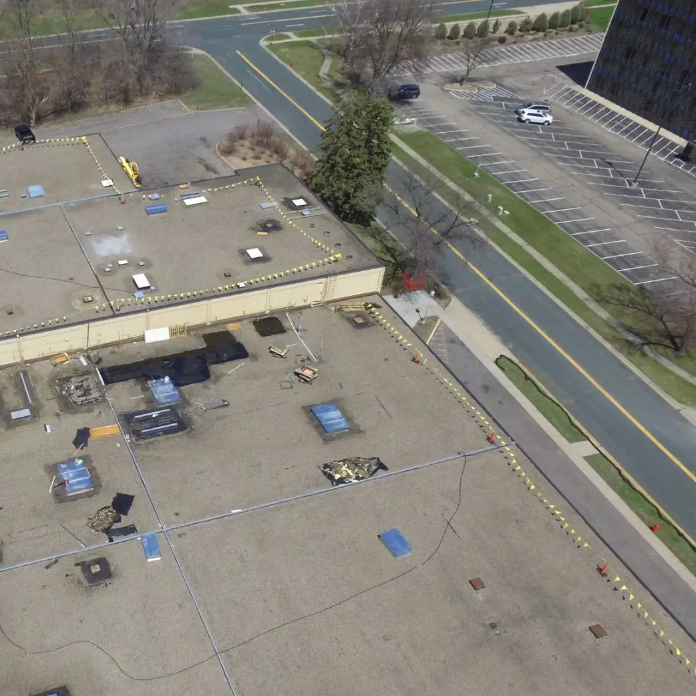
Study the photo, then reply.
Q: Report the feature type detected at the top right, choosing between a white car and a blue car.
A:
white car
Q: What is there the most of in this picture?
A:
buildings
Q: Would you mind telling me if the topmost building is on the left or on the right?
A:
right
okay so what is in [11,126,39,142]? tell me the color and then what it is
black car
